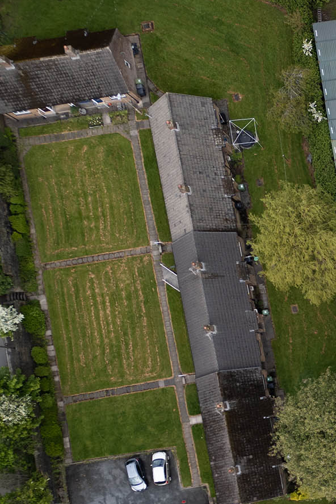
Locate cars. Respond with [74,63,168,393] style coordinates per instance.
[151,452,171,485]
[124,457,150,490]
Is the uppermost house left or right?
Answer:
left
